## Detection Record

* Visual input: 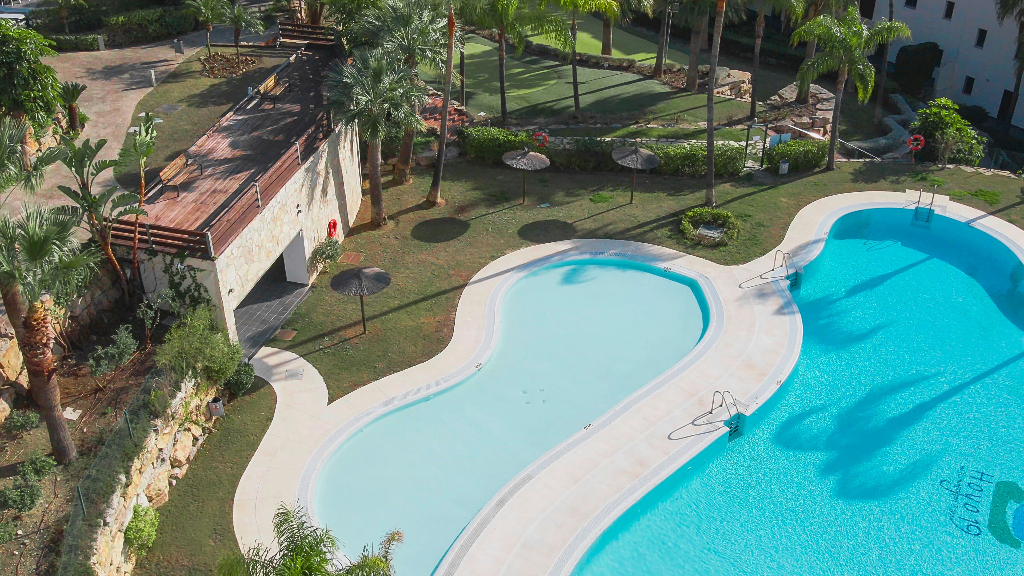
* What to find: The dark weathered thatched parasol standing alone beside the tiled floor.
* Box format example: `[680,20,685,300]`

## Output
[326,260,392,334]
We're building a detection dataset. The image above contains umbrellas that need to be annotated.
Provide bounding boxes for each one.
[326,260,392,334]
[499,142,548,203]
[610,142,660,203]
